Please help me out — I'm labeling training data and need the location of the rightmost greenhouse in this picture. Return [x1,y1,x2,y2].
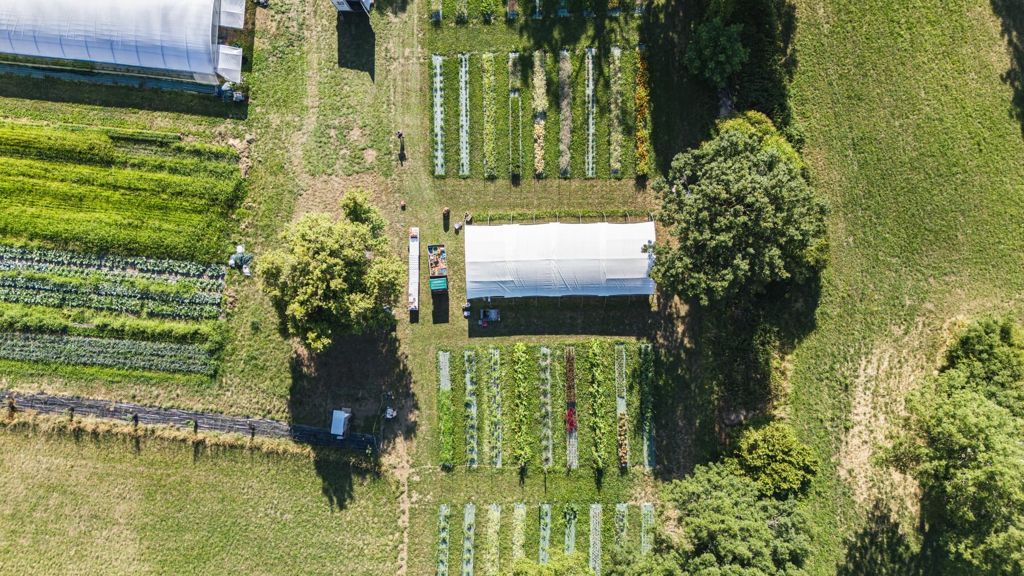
[463,212,659,307]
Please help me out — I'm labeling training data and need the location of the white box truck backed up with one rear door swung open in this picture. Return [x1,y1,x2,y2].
[330,0,373,21]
